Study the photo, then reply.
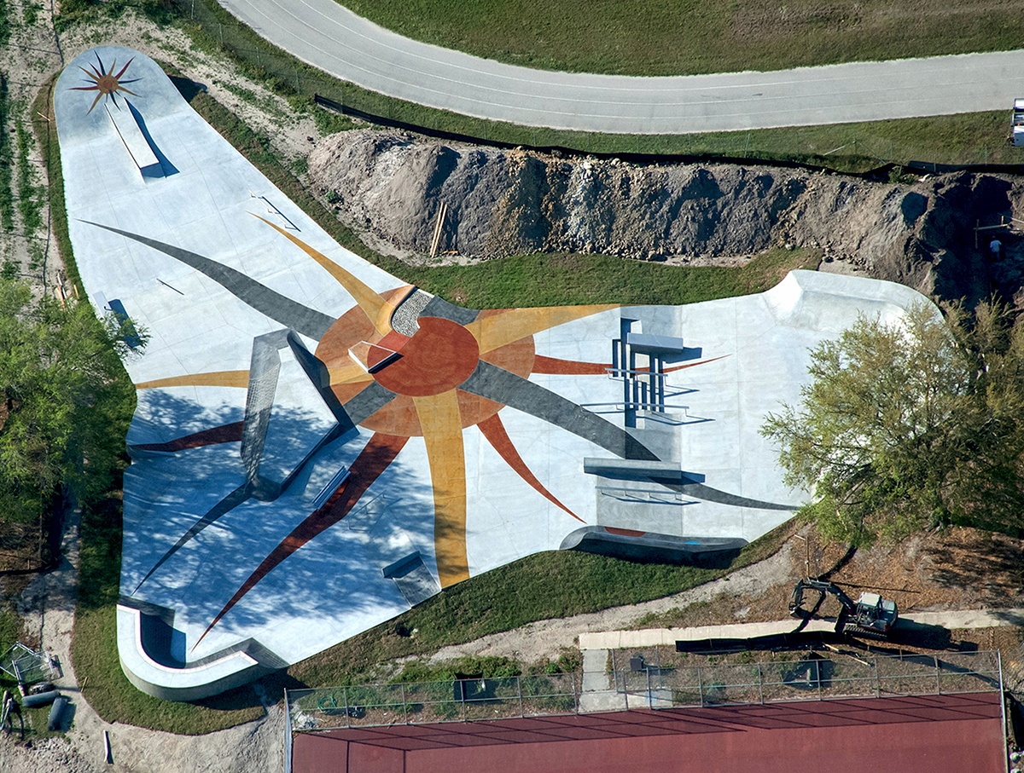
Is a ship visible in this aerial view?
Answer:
No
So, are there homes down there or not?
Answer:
No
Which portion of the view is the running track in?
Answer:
top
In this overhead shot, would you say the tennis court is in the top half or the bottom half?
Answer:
bottom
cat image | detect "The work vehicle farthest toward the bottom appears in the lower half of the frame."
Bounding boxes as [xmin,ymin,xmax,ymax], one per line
[785,569,904,645]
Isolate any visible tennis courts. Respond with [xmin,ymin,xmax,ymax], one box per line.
[291,692,1010,773]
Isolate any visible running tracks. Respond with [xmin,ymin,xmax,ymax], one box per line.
[218,0,1024,133]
